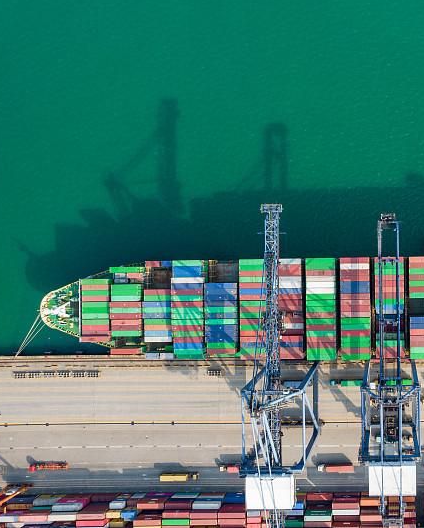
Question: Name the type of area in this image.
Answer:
port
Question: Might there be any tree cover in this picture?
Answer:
No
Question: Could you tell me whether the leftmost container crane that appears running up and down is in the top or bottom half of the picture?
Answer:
bottom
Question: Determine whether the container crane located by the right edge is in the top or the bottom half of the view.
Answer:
bottom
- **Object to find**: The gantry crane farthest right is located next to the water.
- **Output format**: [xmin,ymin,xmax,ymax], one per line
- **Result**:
[357,209,424,528]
